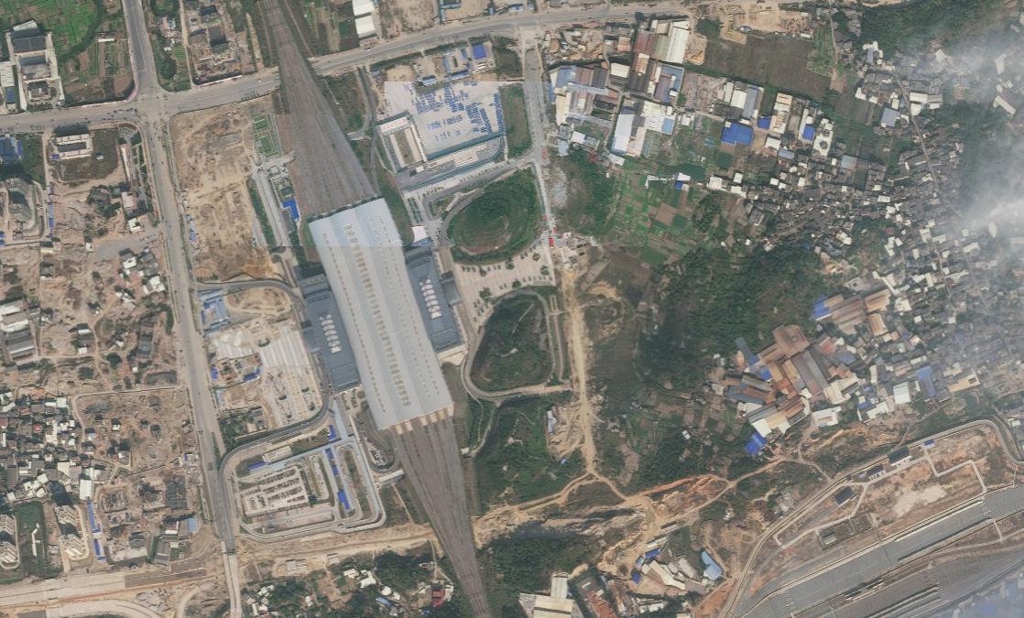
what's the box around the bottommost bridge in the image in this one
[222,545,243,618]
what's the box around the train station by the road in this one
[299,199,467,444]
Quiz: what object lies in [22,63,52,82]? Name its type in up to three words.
house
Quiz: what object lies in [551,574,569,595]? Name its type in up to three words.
house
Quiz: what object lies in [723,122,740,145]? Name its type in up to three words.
building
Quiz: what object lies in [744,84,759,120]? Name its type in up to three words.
building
